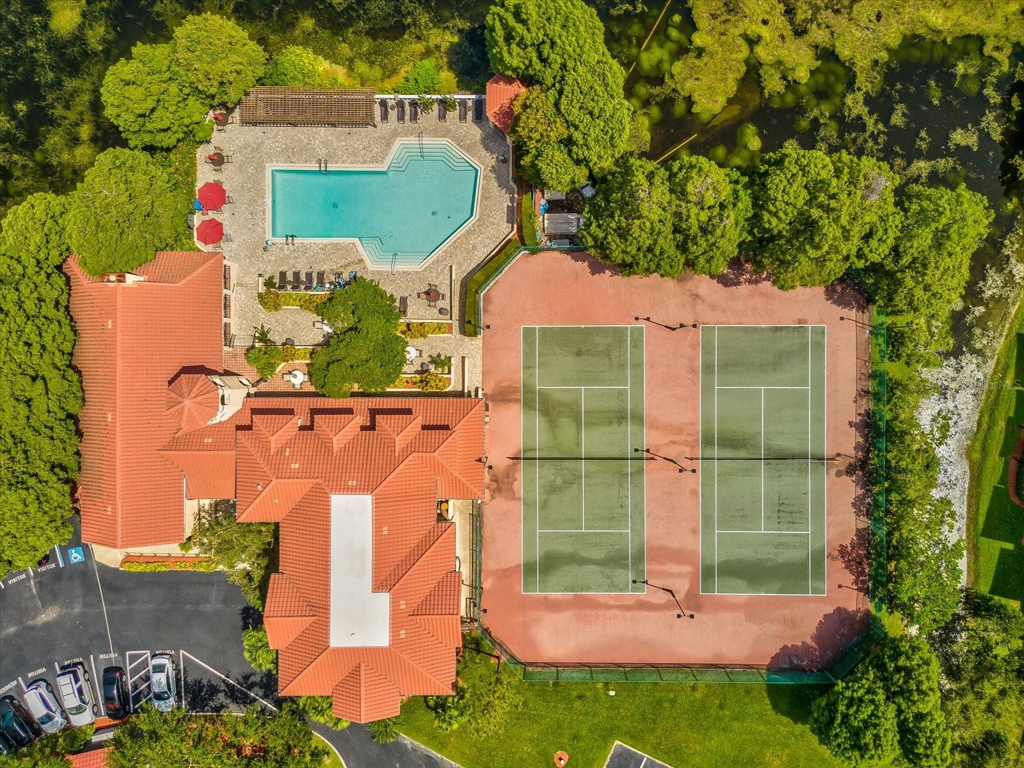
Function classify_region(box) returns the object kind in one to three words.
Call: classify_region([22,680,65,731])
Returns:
car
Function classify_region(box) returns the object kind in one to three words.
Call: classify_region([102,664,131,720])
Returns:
car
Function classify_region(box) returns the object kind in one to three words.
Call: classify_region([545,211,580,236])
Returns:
shed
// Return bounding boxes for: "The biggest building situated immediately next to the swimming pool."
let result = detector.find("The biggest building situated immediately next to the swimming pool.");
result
[58,250,486,724]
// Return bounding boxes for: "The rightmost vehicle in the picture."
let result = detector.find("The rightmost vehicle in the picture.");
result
[149,655,178,710]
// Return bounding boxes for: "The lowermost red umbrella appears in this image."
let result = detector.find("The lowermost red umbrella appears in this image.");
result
[196,218,223,245]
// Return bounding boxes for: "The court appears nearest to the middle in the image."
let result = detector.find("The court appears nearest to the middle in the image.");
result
[513,325,656,594]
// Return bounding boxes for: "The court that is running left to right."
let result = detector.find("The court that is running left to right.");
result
[602,742,675,768]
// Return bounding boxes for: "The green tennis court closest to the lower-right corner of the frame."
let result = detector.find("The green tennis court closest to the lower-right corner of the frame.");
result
[693,325,842,595]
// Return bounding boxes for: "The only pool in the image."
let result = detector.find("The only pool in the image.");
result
[265,137,483,270]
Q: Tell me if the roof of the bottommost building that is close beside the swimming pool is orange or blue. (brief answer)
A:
orange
